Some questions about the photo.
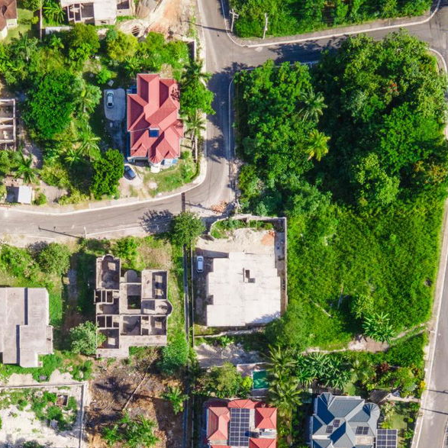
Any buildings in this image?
Yes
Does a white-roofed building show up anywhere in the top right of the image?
No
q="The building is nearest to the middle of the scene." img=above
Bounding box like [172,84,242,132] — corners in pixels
[206,250,280,328]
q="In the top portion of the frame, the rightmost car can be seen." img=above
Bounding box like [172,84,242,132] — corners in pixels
[123,162,137,183]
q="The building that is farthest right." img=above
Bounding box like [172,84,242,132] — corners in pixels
[310,396,380,448]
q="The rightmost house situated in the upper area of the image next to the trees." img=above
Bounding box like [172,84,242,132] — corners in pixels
[127,74,183,176]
